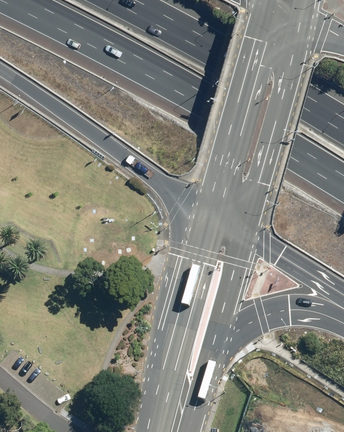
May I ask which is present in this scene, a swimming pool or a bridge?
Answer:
bridge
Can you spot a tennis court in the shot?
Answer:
No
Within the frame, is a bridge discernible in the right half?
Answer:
Yes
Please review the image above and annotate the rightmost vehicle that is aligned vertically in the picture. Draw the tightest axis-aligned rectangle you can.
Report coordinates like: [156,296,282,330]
[196,359,216,401]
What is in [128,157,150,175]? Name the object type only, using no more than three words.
vehicle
